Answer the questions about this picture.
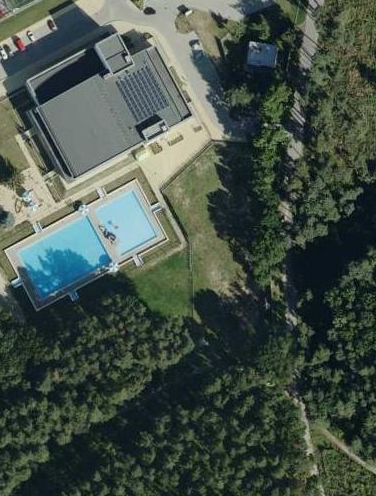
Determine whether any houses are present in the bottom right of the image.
No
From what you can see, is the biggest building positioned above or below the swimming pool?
above it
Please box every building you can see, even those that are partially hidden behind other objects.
[248,42,279,68]
[26,32,192,182]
